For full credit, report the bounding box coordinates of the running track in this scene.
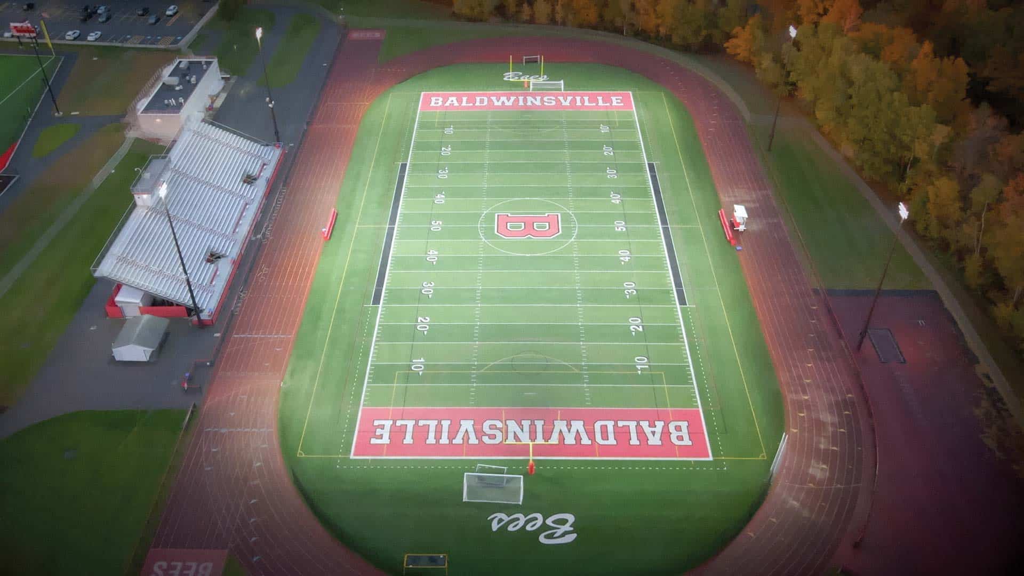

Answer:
[193,36,875,576]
